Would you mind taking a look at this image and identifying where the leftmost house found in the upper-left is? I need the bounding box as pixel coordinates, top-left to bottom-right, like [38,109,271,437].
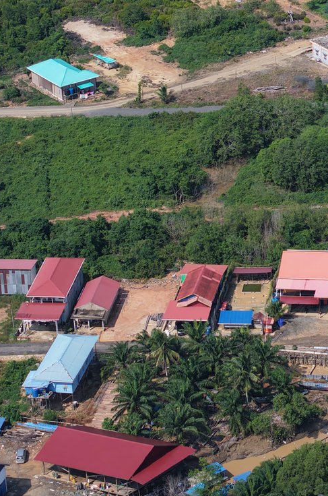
[27,54,96,97]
